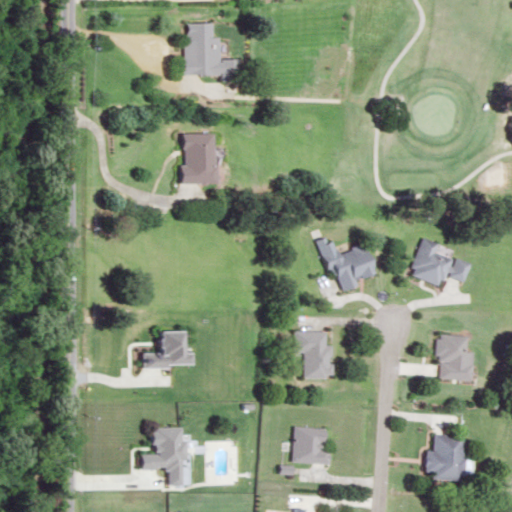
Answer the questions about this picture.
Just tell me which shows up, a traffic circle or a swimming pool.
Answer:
swimming pool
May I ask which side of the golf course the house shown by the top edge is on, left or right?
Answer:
on the left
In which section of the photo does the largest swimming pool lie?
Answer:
bottom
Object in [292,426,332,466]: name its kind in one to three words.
house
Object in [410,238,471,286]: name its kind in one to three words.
house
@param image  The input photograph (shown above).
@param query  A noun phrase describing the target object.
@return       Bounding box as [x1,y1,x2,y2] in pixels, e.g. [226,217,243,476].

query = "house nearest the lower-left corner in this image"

[141,428,206,486]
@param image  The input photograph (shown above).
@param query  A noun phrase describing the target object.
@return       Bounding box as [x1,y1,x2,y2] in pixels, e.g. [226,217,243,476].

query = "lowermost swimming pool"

[205,440,238,486]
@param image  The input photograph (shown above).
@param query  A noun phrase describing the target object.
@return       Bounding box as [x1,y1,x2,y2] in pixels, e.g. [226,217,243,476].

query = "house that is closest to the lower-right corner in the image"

[424,434,476,481]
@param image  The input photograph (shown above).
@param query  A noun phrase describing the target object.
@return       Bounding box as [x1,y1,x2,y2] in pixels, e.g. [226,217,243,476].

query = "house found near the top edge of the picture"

[184,24,240,76]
